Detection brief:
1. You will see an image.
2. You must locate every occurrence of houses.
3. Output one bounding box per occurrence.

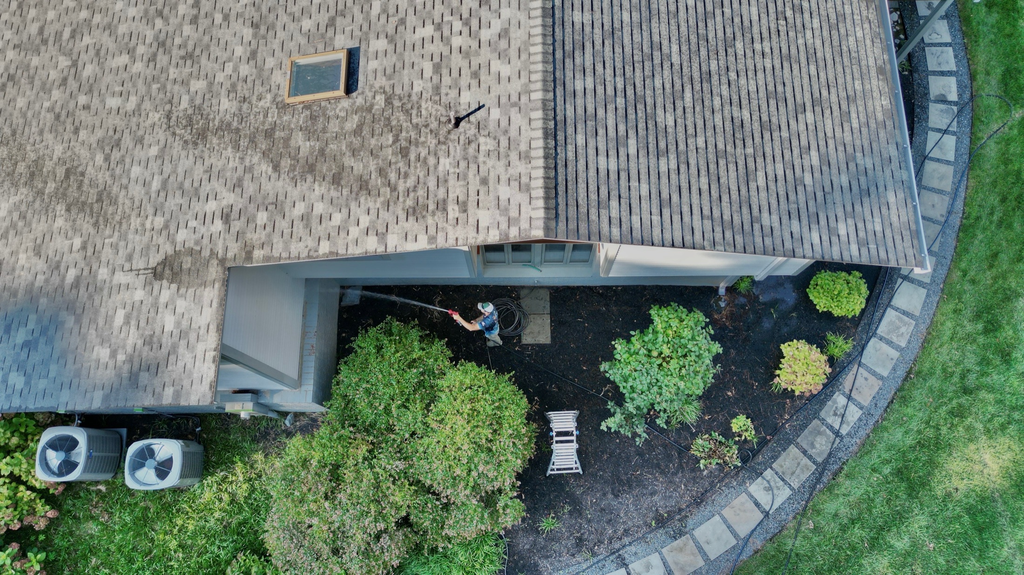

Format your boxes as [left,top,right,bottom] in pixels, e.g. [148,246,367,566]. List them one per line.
[0,0,938,415]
